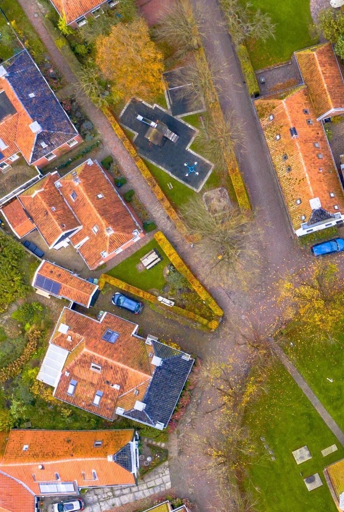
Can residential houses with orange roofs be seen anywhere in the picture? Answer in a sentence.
Yes, there's a residential house with an orange roof here.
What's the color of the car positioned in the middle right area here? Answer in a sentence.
In this view, the car positioned in the middle right area is blue.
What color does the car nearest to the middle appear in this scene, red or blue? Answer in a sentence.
The color of the car nearest to the middle is blue.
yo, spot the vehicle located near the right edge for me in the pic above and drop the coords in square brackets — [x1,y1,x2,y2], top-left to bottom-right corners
[311,237,344,257]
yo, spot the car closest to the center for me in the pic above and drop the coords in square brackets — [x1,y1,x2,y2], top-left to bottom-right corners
[111,292,145,315]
